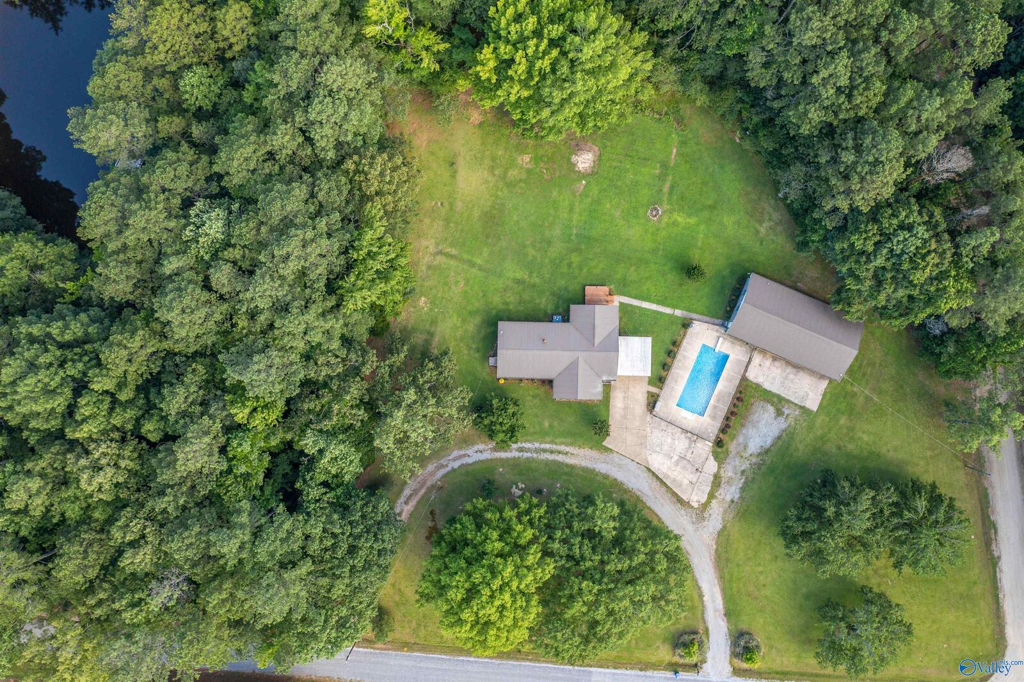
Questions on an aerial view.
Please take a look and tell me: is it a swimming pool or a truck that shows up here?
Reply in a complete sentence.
There is a swimming pool in the scene.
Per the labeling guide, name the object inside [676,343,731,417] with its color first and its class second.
blue swimming pool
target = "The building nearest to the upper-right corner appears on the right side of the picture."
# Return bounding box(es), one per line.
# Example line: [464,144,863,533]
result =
[726,273,865,382]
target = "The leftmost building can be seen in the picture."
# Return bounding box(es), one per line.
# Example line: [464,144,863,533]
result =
[498,304,620,400]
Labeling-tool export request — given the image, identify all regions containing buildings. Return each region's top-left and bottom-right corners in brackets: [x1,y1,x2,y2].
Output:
[498,304,620,400]
[726,273,865,382]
